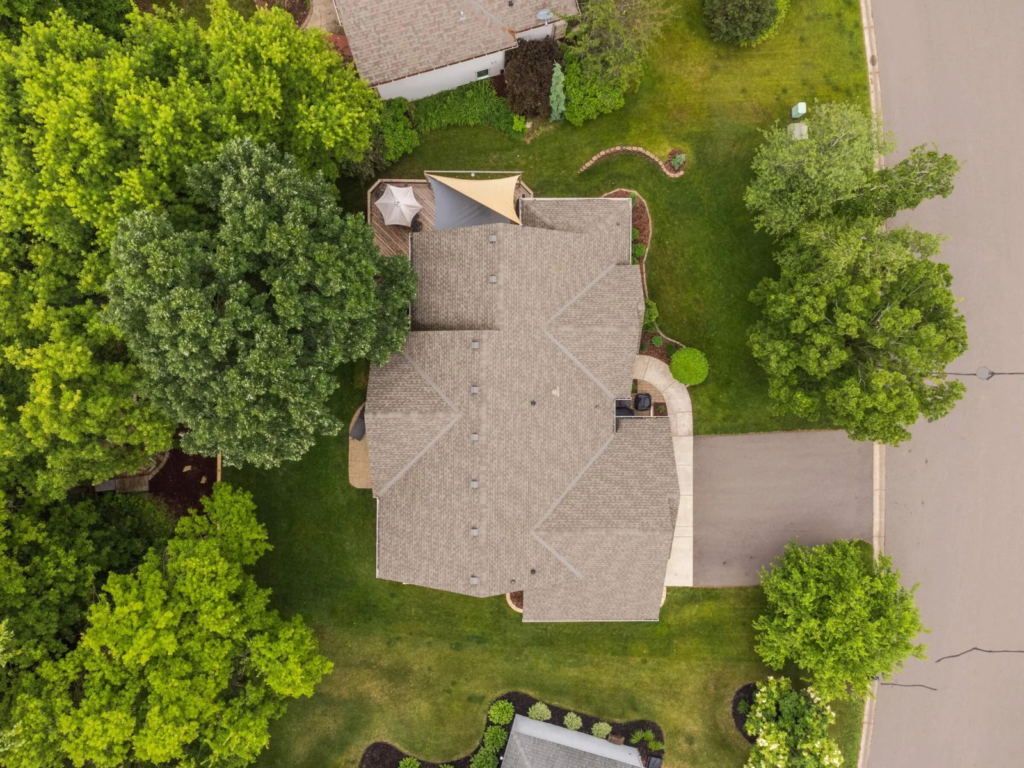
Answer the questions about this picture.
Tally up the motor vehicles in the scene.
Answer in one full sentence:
The photo contains no motor vehicles.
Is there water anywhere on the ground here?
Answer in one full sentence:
No, the picture contains no water.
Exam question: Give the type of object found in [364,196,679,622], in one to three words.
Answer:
house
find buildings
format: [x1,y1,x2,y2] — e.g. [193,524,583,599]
[331,0,581,104]
[500,715,644,768]
[364,196,679,622]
